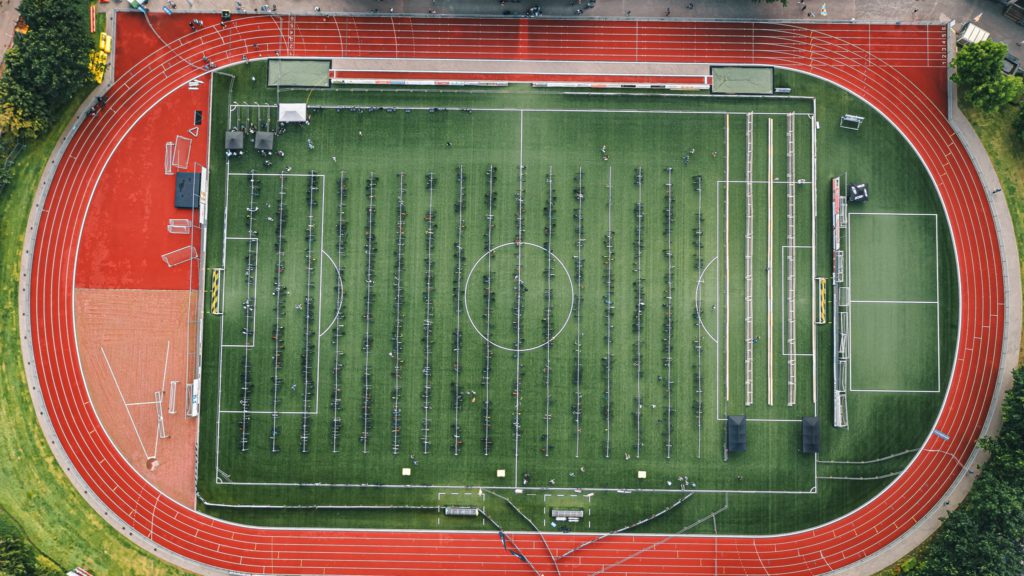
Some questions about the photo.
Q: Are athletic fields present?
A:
Yes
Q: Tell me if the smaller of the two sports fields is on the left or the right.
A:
right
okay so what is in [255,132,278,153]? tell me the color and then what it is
gray tent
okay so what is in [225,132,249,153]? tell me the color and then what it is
gray tent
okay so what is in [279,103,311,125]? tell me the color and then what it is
white tent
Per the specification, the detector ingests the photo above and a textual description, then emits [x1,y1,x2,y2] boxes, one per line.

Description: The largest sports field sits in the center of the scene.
[213,102,819,528]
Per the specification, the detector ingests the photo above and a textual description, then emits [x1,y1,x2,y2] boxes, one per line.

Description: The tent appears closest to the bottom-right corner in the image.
[796,413,820,453]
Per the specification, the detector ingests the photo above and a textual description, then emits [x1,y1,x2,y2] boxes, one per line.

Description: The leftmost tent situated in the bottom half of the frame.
[723,412,746,451]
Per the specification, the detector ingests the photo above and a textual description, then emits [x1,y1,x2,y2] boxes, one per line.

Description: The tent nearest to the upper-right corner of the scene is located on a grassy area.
[840,183,868,207]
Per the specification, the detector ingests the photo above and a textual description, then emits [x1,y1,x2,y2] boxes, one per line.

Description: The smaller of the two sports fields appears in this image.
[849,213,940,392]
